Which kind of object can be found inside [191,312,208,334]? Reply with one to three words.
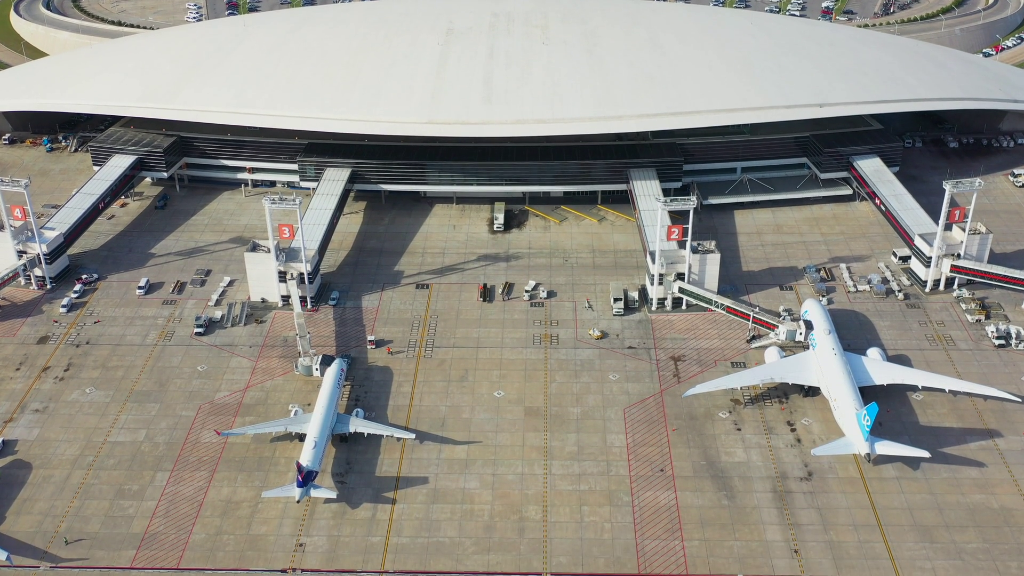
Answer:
vehicle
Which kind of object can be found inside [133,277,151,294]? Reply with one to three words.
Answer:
vehicle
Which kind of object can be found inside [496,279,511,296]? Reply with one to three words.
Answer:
work vehicle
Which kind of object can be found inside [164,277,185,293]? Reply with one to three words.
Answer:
work vehicle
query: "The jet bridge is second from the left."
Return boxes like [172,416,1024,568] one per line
[278,273,336,380]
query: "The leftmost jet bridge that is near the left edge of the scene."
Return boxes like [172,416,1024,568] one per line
[0,251,39,288]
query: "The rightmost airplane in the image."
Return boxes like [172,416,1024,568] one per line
[682,298,1023,465]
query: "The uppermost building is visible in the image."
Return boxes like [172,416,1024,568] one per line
[0,0,1024,207]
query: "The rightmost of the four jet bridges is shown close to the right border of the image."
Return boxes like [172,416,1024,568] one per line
[939,254,1024,317]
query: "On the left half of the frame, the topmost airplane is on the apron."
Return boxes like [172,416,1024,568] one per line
[213,359,418,505]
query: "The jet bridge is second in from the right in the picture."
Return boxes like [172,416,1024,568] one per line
[663,274,820,355]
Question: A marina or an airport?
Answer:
airport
